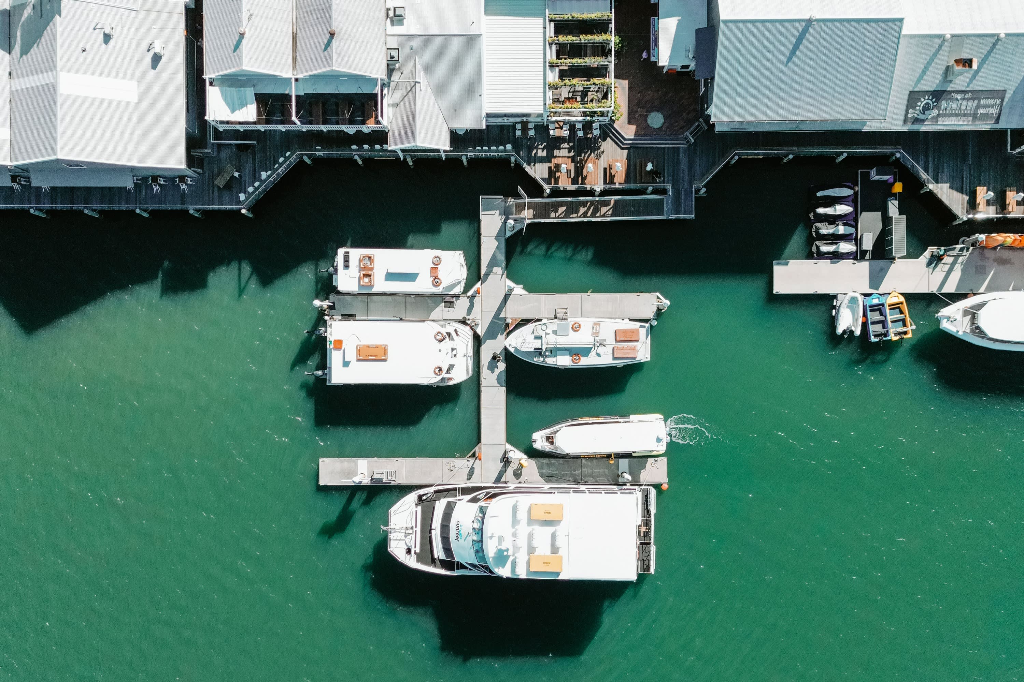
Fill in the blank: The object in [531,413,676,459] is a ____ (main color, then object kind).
white boat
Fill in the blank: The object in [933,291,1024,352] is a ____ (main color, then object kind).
white boat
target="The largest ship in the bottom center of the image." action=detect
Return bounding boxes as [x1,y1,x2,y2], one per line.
[381,482,656,581]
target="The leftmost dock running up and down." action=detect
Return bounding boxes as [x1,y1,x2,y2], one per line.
[480,196,524,484]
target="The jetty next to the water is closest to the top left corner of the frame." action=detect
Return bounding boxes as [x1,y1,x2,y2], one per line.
[323,283,480,335]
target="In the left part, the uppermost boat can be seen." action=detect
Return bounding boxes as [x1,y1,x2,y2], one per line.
[318,248,467,295]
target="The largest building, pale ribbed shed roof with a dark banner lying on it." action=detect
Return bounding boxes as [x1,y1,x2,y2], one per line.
[699,0,1024,132]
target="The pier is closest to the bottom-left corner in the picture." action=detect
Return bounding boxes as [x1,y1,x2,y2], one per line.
[319,445,480,484]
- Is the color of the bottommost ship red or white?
white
